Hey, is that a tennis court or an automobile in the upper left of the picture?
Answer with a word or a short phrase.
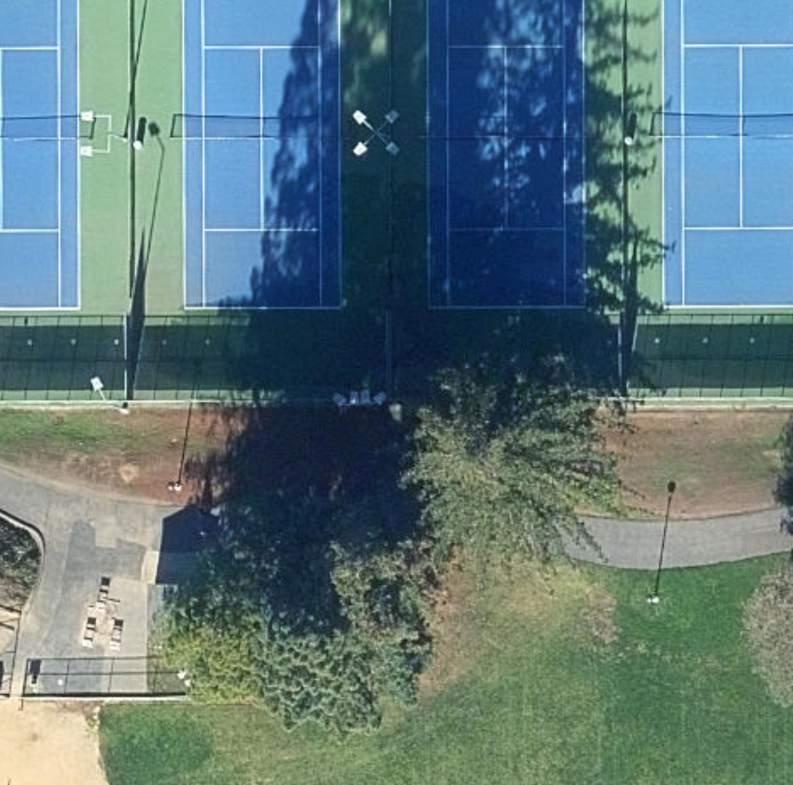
tennis court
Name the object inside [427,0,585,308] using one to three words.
tennis court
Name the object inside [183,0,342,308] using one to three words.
tennis court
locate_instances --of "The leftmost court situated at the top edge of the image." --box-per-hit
[0,0,80,310]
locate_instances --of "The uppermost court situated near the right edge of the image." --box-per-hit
[662,0,793,307]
